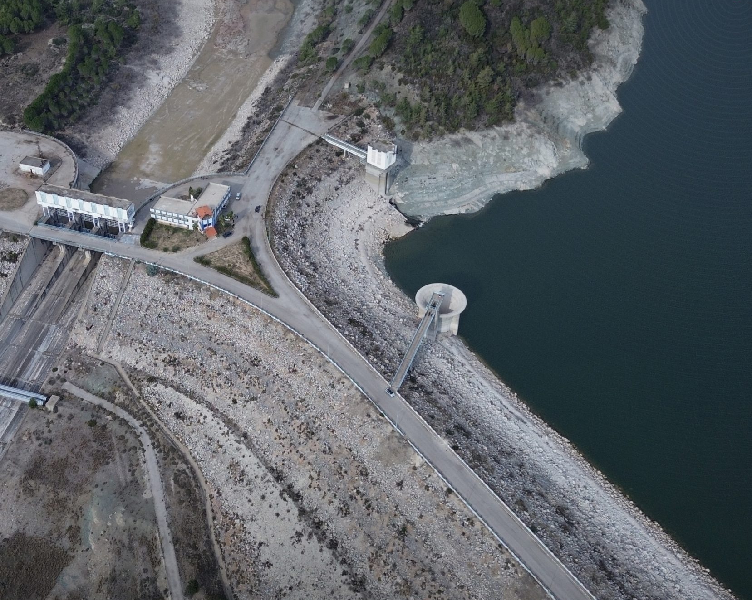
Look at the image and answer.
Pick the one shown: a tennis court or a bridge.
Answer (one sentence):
This aerial view contains a bridge.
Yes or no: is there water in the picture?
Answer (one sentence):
Yes, water can be seen from above here.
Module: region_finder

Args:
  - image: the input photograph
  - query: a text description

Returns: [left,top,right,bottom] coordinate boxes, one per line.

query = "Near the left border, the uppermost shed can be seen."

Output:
[16,154,54,177]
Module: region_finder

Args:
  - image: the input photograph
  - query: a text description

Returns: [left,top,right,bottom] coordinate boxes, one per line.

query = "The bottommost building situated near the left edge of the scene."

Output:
[33,186,137,242]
